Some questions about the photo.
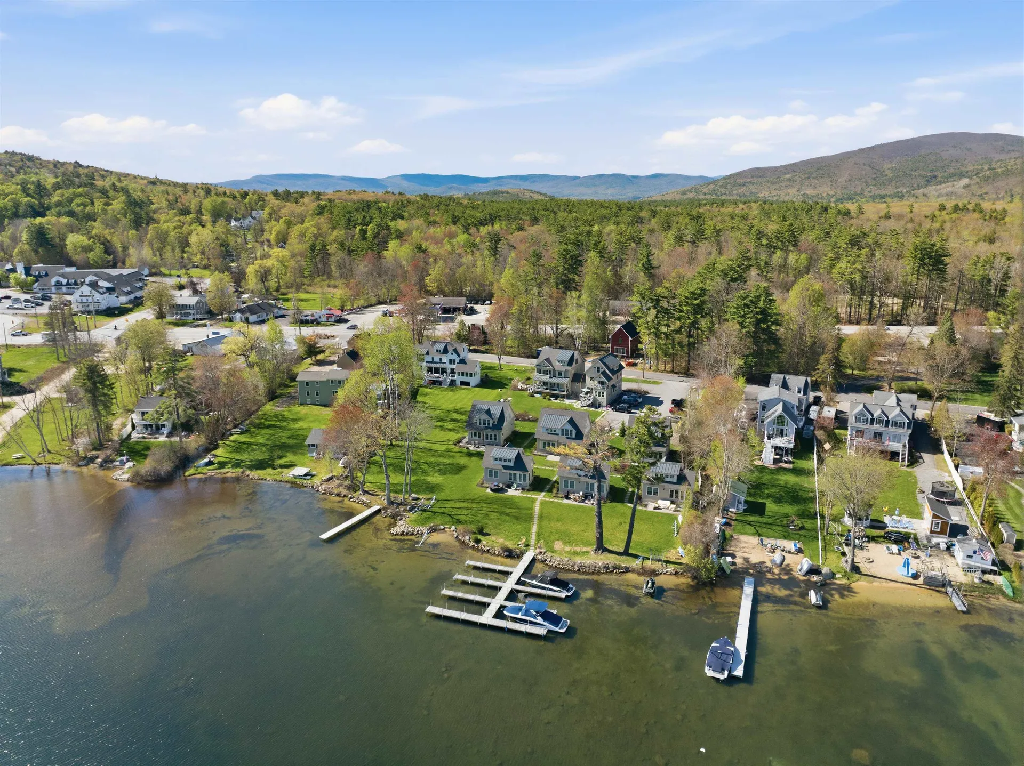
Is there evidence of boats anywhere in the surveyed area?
Yes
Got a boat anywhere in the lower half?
Yes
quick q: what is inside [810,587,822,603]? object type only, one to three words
boat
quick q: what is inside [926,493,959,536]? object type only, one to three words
shed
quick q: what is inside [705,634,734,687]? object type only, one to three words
boat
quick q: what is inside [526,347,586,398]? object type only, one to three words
house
